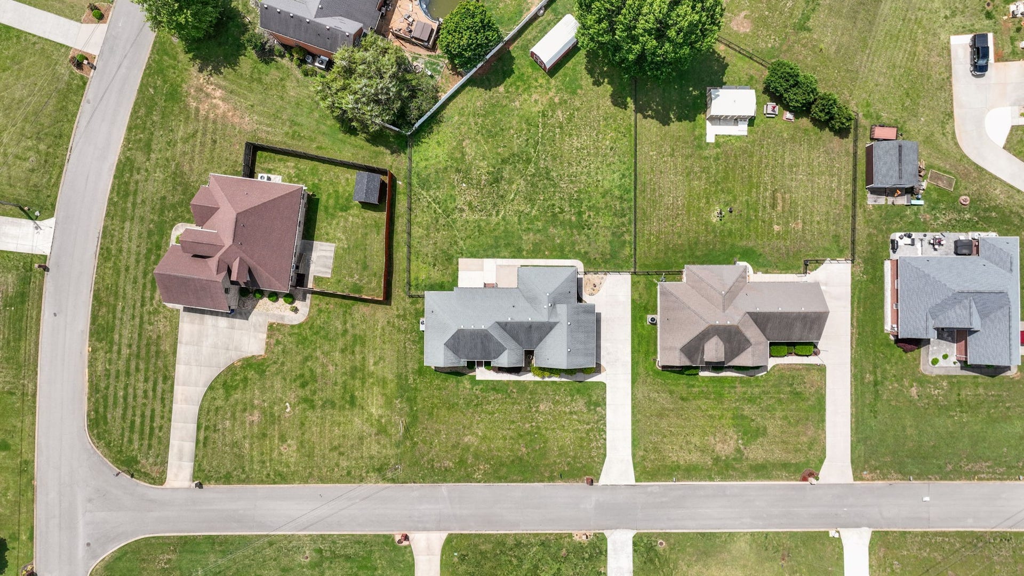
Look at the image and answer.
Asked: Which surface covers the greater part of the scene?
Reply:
grass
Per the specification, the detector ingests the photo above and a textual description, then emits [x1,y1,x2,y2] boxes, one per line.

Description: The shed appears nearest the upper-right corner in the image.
[867,140,919,187]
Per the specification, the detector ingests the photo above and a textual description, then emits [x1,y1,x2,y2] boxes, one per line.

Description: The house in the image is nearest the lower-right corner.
[890,237,1021,366]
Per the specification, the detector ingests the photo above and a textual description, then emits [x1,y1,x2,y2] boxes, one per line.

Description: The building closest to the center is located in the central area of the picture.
[424,266,596,369]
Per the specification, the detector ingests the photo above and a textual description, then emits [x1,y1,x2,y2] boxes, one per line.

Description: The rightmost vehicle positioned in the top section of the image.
[969,33,991,75]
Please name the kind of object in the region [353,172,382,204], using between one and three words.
shed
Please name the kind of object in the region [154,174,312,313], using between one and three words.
house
